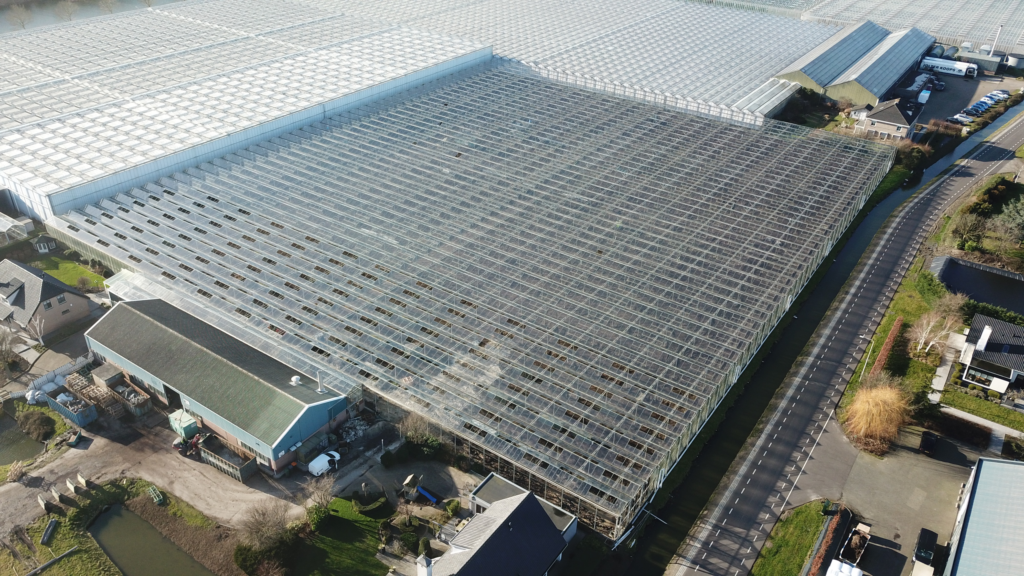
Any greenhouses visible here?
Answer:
Yes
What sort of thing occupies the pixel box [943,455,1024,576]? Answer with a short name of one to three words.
building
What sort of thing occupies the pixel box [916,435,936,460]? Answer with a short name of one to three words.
car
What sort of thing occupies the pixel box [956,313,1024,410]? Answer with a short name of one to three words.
house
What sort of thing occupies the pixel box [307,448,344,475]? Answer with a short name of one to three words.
vehicle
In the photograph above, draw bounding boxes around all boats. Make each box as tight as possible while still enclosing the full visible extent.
[40,517,54,544]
